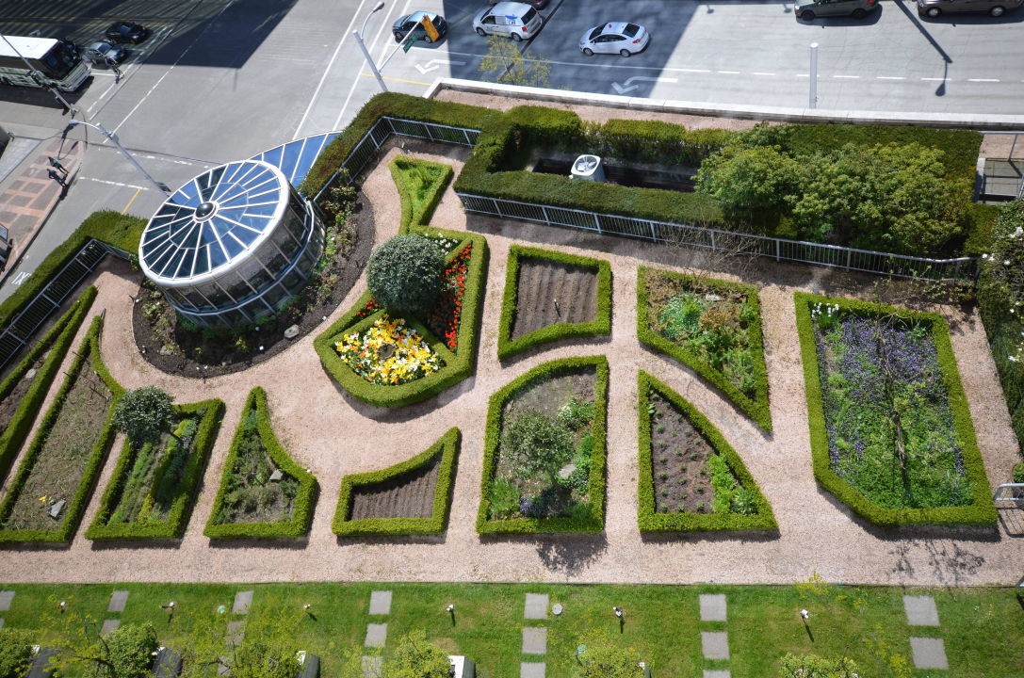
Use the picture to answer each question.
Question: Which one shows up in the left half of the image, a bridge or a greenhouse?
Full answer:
Visible in the left half of the image is a greenhouse.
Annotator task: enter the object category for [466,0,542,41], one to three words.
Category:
vehicle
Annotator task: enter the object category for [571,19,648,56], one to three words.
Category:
car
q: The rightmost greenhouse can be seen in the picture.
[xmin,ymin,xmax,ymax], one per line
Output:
[141,156,325,329]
